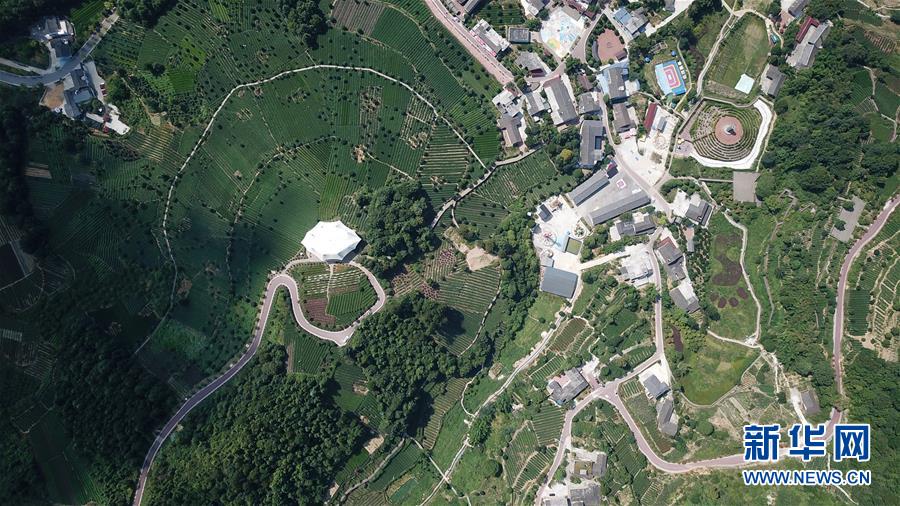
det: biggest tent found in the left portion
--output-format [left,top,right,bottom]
[301,220,361,263]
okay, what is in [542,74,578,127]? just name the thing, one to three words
building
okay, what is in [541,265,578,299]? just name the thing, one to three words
shed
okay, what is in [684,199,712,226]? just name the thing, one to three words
house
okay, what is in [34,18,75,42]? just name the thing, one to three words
house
